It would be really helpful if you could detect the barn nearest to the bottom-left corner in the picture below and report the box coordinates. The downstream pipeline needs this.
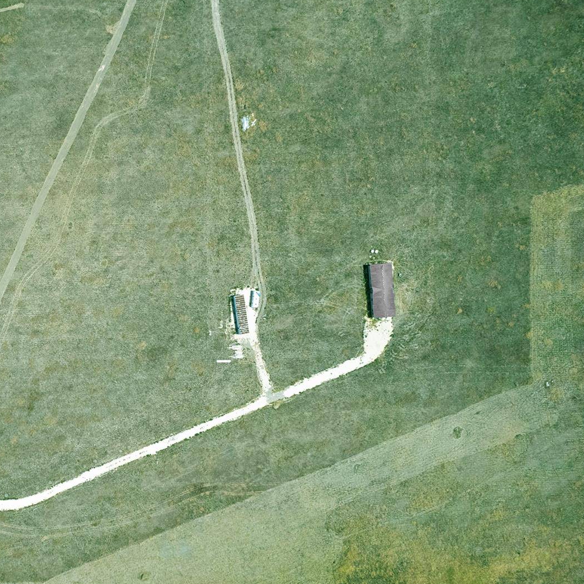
[231,294,249,334]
